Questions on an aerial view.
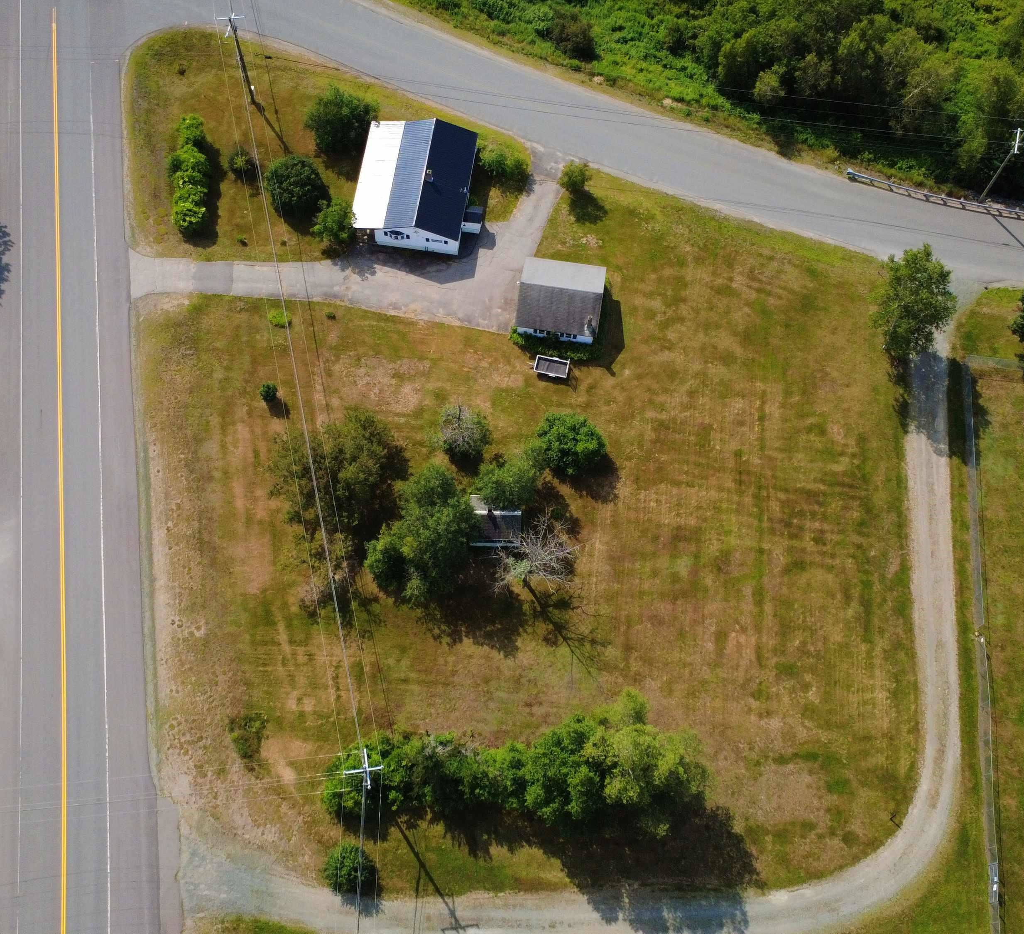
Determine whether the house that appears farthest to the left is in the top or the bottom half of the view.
top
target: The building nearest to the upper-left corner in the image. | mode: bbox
[352,117,482,255]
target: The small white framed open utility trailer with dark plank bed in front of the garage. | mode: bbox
[525,355,571,382]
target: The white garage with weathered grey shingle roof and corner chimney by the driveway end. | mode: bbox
[514,259,606,345]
